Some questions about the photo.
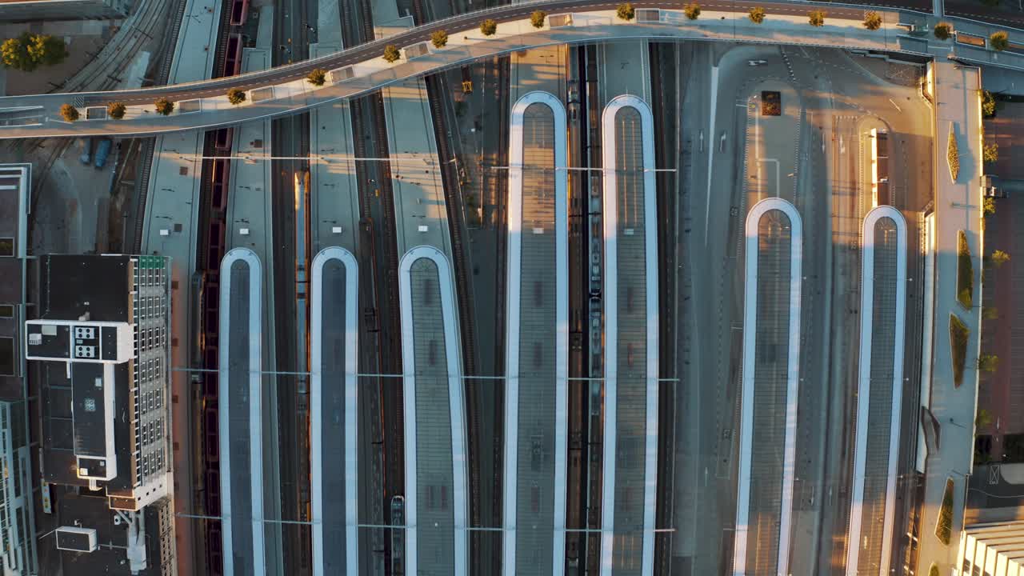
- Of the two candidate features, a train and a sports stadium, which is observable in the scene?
train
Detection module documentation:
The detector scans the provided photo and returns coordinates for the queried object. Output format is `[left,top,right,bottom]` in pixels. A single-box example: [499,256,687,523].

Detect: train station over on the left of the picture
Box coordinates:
[5,0,673,576]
